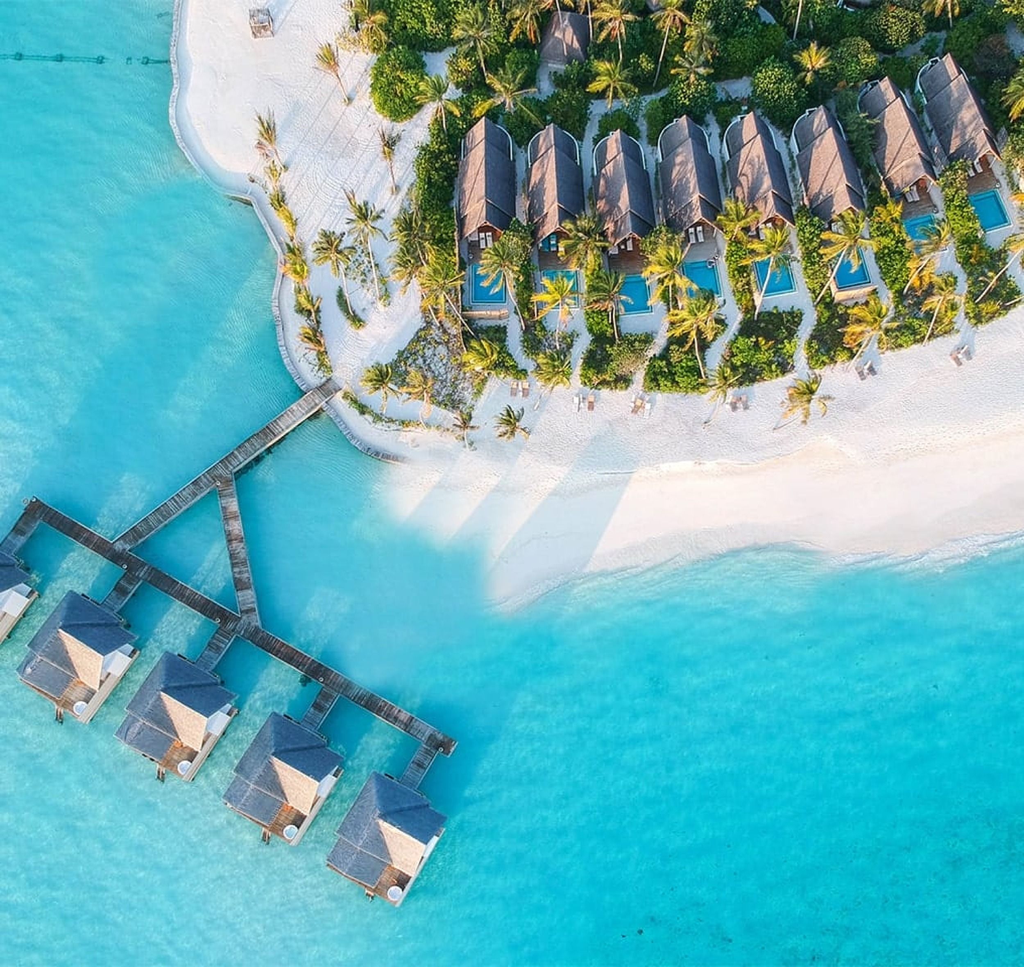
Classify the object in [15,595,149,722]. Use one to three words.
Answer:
house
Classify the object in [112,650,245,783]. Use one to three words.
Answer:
house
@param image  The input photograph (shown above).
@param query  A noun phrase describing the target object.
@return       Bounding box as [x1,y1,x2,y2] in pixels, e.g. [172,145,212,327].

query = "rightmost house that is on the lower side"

[324,770,455,915]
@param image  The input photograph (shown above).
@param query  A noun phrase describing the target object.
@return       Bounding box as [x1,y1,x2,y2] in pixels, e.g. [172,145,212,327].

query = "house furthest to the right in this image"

[913,54,1020,226]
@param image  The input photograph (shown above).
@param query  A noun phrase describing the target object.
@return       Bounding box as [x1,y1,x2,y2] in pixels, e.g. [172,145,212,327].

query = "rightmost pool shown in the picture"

[968,189,1011,234]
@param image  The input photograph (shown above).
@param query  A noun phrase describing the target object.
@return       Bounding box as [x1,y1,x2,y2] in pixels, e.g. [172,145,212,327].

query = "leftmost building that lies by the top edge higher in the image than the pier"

[245,5,271,37]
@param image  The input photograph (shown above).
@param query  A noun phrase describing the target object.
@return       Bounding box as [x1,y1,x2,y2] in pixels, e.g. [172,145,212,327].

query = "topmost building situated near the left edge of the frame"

[0,549,57,656]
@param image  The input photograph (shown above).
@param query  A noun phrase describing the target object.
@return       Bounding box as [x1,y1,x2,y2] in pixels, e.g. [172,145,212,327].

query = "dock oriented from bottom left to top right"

[117,378,342,550]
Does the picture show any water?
Yes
